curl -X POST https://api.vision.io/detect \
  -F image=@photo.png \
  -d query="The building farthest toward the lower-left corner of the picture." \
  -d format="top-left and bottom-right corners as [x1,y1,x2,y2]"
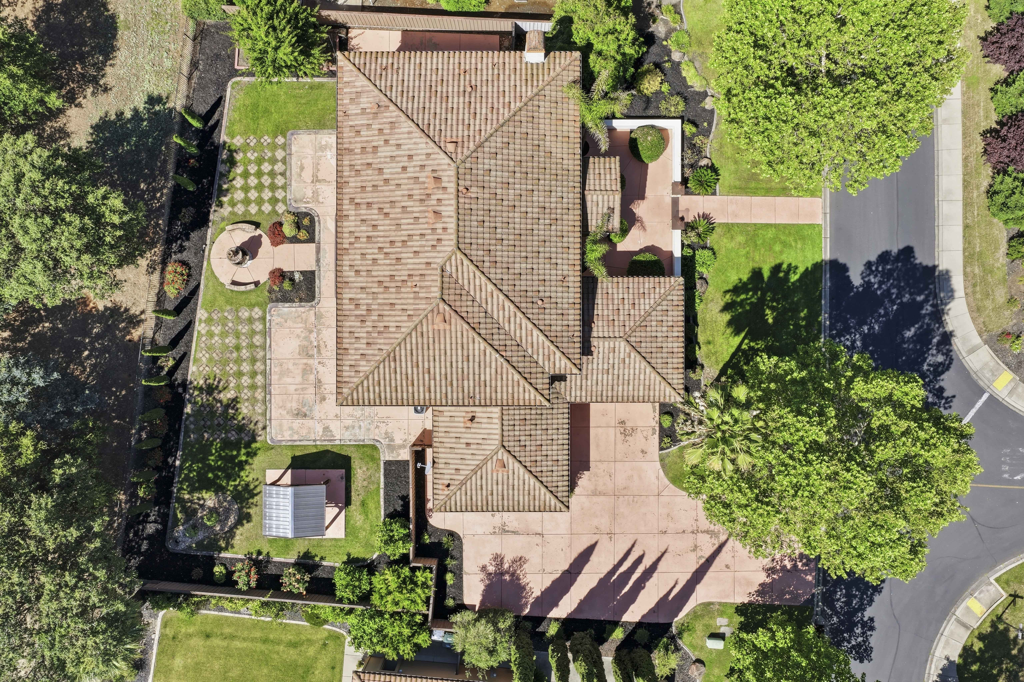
[263,482,330,538]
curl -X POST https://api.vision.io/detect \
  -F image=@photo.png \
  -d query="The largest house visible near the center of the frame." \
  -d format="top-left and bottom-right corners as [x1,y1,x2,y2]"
[334,31,686,515]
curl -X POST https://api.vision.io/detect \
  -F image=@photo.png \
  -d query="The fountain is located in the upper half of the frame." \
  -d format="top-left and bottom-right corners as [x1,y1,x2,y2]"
[227,247,253,267]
